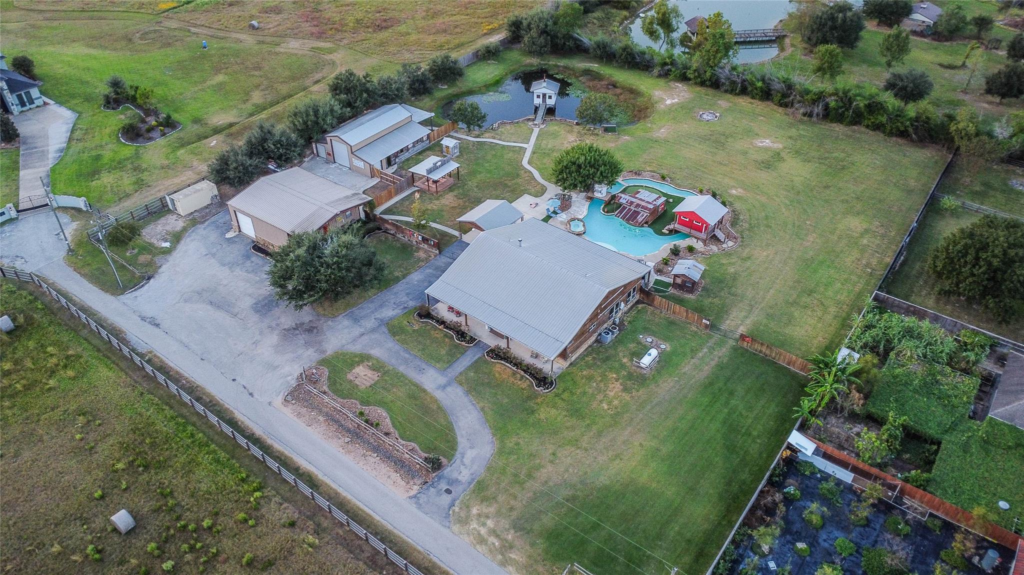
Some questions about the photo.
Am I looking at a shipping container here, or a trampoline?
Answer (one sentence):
The image shows a shipping container.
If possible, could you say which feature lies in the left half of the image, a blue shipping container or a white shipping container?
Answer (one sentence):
There is a white shipping container in the left half of the image.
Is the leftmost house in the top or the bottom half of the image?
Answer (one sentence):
Seen from above, the leftmost house lies in the top half of the view.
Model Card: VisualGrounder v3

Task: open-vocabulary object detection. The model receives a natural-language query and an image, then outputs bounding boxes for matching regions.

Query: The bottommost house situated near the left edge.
[0,76,43,117]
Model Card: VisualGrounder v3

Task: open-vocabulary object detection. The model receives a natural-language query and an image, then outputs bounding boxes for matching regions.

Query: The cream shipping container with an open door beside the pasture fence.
[163,179,219,216]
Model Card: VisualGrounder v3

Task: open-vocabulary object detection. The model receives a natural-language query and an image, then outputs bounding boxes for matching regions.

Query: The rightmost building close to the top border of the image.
[883,2,941,40]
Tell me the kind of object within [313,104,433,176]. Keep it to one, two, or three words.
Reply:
barn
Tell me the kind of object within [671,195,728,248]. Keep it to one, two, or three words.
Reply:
building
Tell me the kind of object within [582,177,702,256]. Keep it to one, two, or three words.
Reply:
swimming pool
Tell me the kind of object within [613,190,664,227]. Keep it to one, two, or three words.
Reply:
shed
